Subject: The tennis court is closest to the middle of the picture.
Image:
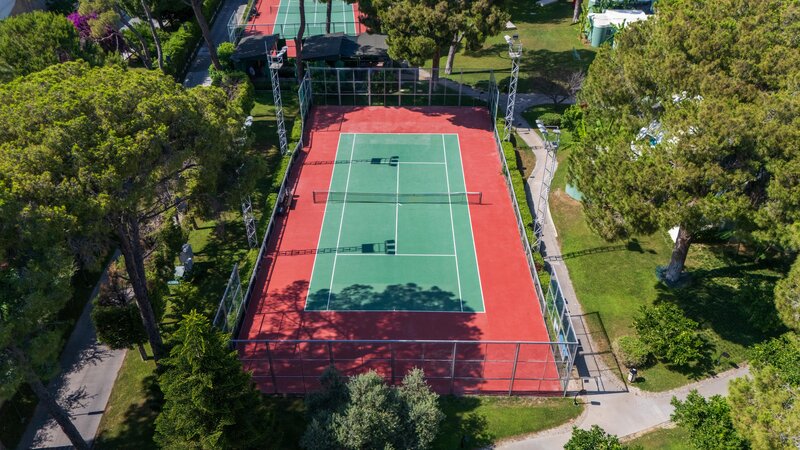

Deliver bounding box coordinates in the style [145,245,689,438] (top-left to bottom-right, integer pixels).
[233,106,561,391]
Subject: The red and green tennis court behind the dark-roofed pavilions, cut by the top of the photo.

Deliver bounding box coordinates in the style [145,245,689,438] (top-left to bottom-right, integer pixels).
[236,0,383,55]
